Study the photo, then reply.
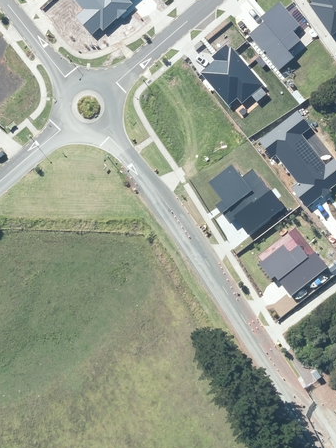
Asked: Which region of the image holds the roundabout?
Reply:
top left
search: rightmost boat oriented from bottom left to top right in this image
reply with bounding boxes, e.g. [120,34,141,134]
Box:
[308,276,329,289]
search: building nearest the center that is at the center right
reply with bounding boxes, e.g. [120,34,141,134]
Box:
[209,164,285,236]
